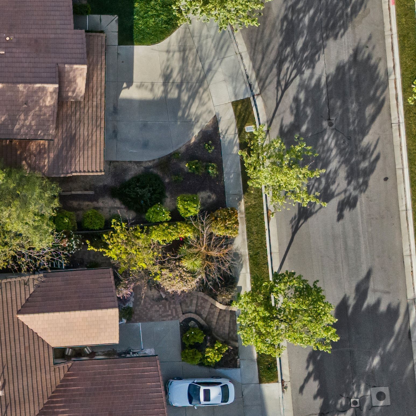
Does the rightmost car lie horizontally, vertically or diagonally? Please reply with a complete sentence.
The rightmost car is laid out horizontally.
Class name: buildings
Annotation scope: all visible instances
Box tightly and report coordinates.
[0,0,107,178]
[0,264,169,416]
